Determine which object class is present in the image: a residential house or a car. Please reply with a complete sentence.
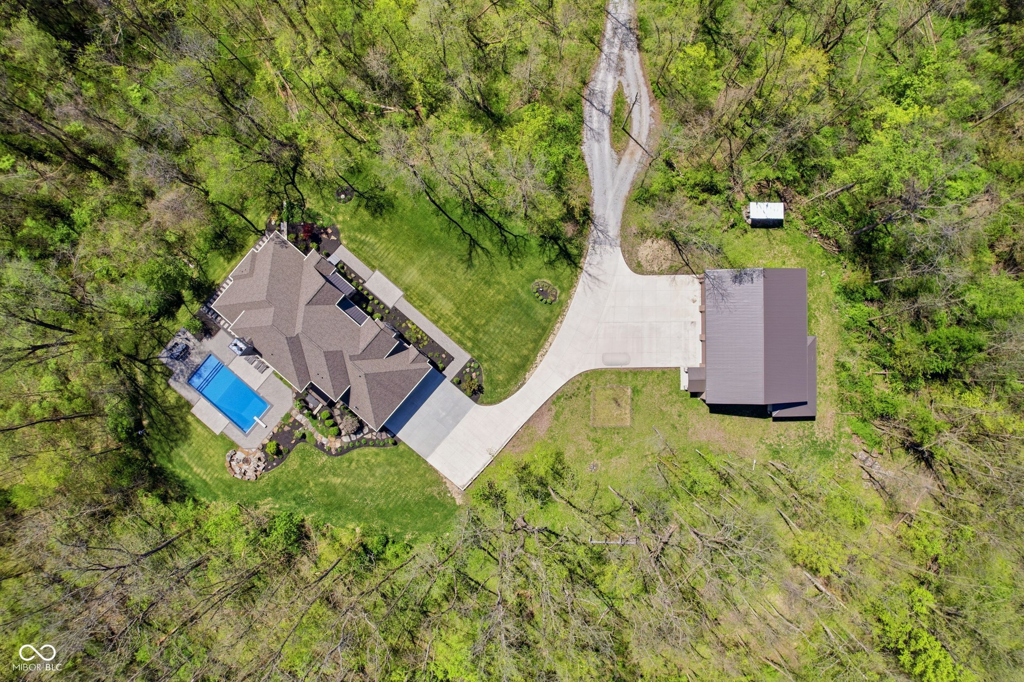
Looking from above, you can make out a residential house.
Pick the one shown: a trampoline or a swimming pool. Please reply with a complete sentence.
I can see a swimming pool in this picture.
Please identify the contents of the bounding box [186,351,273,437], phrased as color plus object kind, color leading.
blue swimming pool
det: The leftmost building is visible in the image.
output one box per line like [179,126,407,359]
[210,230,433,432]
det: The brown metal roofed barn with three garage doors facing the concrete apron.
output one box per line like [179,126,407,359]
[681,268,816,417]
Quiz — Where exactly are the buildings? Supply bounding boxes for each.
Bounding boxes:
[681,268,816,417]
[210,230,433,432]
[743,203,784,221]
